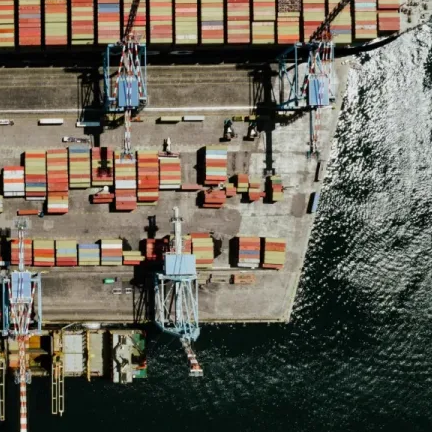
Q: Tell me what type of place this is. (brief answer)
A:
port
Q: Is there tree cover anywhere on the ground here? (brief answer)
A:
No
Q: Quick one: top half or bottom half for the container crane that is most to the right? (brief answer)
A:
top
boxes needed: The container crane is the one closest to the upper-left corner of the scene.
[104,0,147,155]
